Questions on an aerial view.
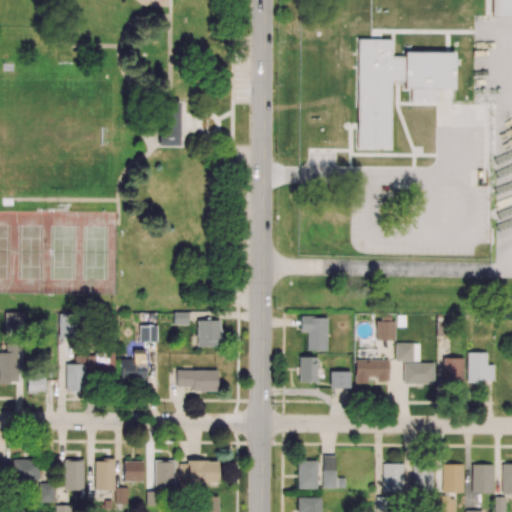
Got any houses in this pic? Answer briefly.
Yes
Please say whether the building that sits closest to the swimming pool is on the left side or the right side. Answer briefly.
right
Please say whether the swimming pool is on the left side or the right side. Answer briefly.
right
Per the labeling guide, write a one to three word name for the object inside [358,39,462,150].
building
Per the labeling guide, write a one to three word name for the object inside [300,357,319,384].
house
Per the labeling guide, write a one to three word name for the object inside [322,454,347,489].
building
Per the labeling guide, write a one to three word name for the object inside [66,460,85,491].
house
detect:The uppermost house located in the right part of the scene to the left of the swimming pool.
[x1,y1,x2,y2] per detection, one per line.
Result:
[302,316,330,352]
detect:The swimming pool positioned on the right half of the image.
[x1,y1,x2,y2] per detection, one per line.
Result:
[356,316,376,346]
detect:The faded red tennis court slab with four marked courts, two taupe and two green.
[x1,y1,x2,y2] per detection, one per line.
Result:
[0,212,116,294]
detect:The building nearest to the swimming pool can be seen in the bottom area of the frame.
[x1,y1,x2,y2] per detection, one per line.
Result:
[376,321,396,341]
